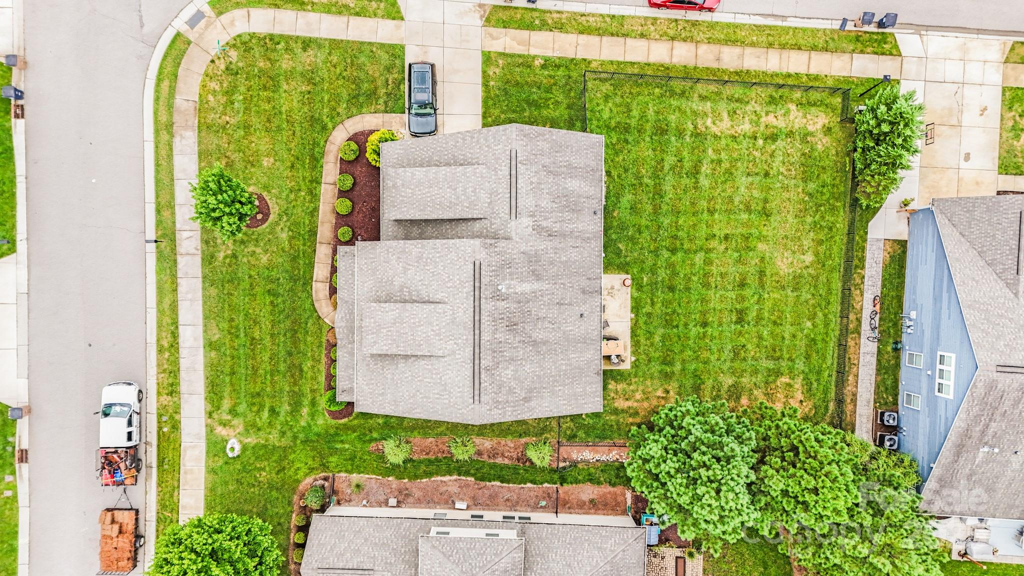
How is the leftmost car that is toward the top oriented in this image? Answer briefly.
from top to bottom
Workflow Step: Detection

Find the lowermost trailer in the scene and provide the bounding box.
[99,487,151,576]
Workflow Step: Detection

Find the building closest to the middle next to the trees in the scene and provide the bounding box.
[333,124,605,424]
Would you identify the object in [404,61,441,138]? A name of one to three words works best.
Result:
car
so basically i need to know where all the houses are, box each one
[300,502,648,576]
[333,124,605,424]
[894,193,1024,522]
